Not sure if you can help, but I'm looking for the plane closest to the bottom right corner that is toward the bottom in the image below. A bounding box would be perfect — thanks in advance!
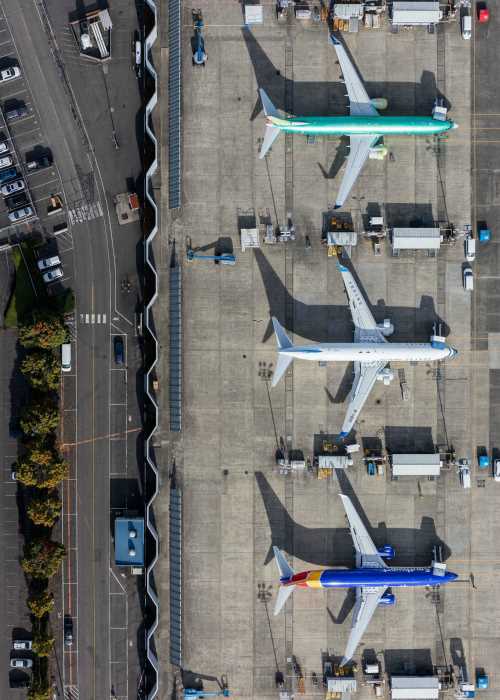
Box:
[273,492,458,664]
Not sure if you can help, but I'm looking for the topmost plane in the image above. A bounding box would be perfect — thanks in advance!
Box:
[259,36,457,210]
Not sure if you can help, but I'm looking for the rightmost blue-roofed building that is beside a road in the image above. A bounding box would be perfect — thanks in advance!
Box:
[115,519,145,565]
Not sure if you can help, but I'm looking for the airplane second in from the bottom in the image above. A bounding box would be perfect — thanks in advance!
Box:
[272,265,457,437]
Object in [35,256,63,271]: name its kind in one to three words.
vehicle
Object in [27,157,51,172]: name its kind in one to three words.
car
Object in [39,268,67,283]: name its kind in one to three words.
vehicle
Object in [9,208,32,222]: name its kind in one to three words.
car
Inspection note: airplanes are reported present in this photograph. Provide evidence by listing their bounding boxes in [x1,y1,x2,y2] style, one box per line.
[259,36,457,210]
[273,492,458,664]
[272,265,457,437]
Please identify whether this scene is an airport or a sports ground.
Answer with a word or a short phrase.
airport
